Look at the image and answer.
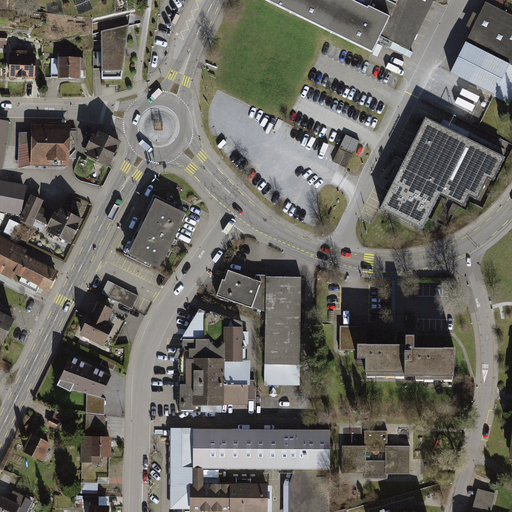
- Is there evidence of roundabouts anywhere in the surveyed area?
Yes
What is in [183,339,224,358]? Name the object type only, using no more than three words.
building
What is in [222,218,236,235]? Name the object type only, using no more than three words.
vehicle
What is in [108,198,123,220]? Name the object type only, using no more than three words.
vehicle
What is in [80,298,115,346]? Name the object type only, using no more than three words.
house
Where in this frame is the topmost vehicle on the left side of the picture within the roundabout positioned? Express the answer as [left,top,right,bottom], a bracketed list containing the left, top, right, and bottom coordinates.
[146,87,164,105]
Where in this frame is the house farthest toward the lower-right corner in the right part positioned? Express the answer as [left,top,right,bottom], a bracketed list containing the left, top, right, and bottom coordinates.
[473,488,495,510]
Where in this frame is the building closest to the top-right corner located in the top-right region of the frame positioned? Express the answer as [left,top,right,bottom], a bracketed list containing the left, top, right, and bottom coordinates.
[467,1,512,66]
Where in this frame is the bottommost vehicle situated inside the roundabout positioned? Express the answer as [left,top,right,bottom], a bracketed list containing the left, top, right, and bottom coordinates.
[139,140,154,154]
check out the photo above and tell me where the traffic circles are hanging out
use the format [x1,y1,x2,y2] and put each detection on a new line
[119,86,198,166]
